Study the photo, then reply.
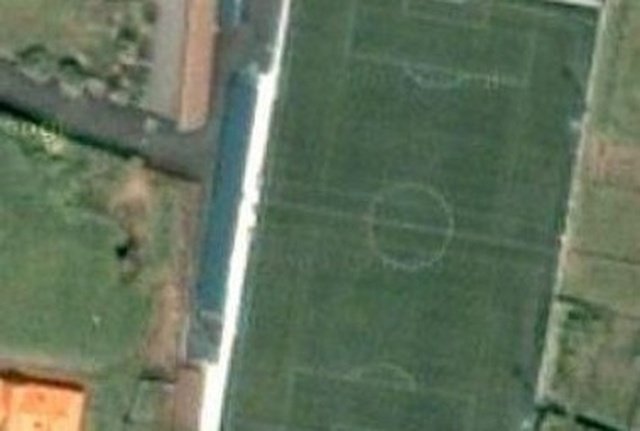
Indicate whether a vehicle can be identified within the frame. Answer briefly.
No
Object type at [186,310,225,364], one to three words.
building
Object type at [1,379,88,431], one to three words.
house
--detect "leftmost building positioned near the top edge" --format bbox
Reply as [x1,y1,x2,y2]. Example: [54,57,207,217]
[181,0,219,131]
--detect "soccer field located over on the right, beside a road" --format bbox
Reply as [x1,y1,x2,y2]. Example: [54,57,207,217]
[222,0,599,431]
